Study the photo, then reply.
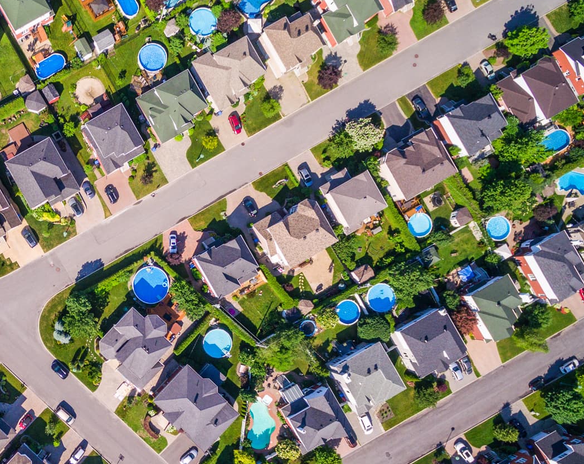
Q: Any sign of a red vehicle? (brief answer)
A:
Yes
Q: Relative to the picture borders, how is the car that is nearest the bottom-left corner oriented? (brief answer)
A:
at an angle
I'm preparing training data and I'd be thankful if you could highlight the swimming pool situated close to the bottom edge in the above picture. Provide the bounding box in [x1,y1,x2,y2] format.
[246,399,277,451]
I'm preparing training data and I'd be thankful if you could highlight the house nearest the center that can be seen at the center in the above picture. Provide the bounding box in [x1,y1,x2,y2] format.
[250,199,337,266]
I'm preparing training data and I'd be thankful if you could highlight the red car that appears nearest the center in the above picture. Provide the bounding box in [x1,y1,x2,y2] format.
[226,112,242,138]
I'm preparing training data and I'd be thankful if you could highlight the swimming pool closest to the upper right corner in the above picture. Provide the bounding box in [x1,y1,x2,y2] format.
[541,126,571,155]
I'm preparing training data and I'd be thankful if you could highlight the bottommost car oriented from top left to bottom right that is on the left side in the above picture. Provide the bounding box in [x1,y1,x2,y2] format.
[60,405,84,426]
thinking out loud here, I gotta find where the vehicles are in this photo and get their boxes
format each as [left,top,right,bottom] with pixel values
[555,355,580,376]
[241,195,260,219]
[16,411,38,434]
[445,359,465,384]
[455,353,475,378]
[226,112,242,138]
[103,183,119,206]
[506,416,530,440]
[70,442,91,462]
[296,165,314,188]
[356,413,374,437]
[167,230,180,254]
[80,178,96,203]
[179,444,197,464]
[411,95,430,120]
[21,225,38,250]
[575,287,584,305]
[60,405,84,426]
[440,0,458,16]
[450,439,475,464]
[67,195,85,219]
[52,356,71,379]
